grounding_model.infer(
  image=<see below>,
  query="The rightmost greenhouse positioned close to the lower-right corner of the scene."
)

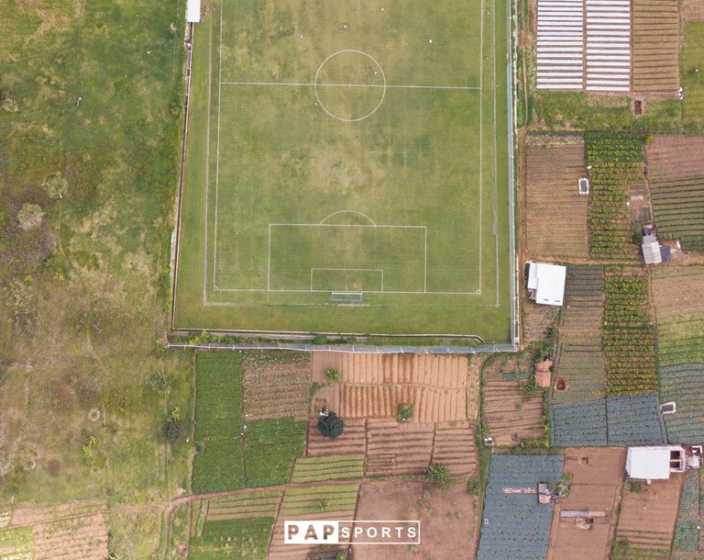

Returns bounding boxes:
[627,447,690,483]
